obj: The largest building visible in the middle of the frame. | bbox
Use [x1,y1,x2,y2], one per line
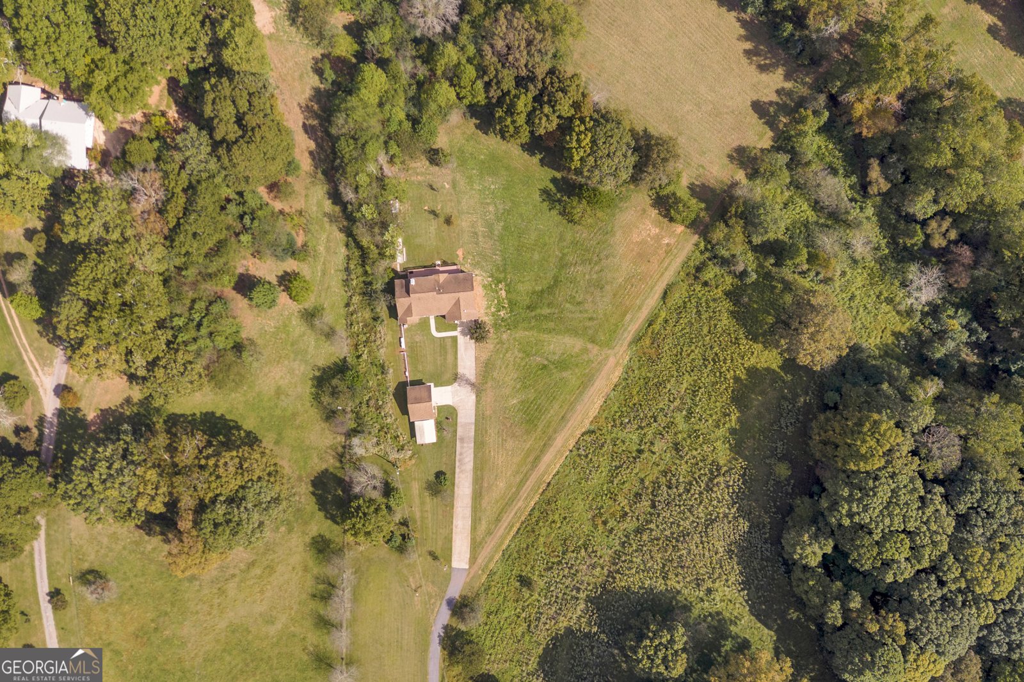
[395,262,478,324]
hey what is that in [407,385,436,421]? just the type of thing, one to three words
building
